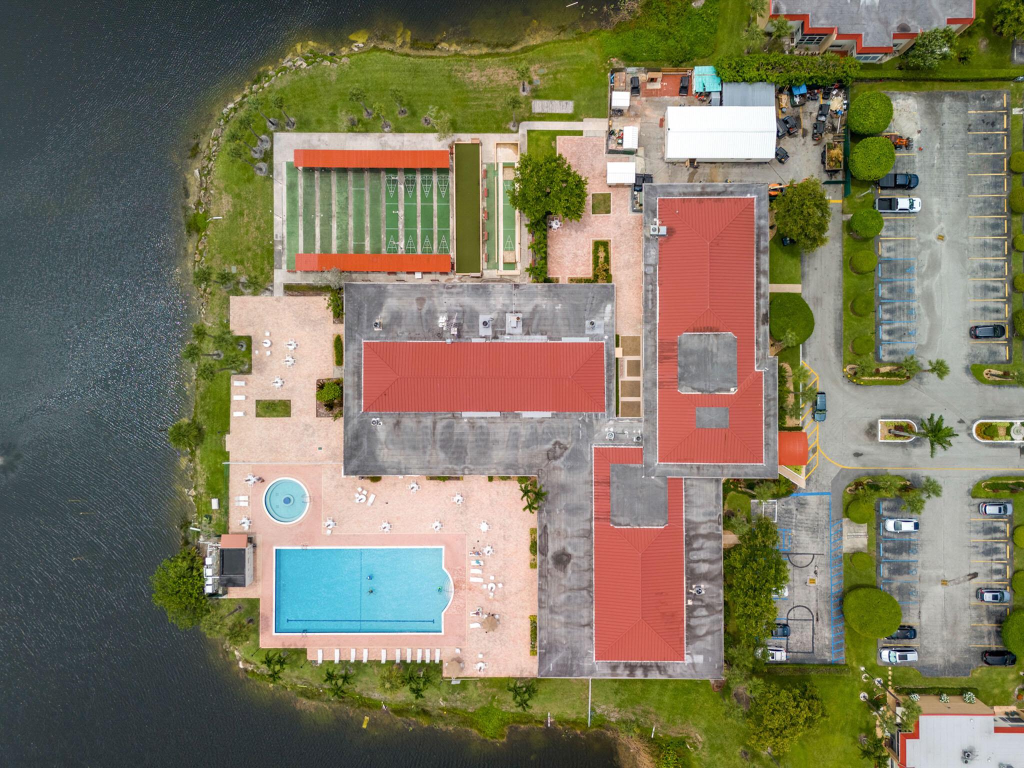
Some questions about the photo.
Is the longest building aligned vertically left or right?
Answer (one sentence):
The longest building aligned vertically appears in the right half of the scene.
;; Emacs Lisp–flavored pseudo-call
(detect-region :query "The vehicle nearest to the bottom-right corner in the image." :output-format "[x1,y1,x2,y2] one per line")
[980,648,1015,666]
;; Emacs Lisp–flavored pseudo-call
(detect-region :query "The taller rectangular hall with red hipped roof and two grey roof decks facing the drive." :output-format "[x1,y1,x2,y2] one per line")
[640,183,778,479]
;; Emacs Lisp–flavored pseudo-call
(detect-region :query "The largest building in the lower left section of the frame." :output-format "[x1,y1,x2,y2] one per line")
[216,534,254,588]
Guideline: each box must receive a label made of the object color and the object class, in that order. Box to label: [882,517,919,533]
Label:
white car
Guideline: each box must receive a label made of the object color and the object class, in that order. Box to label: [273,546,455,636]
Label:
blue swimming pool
